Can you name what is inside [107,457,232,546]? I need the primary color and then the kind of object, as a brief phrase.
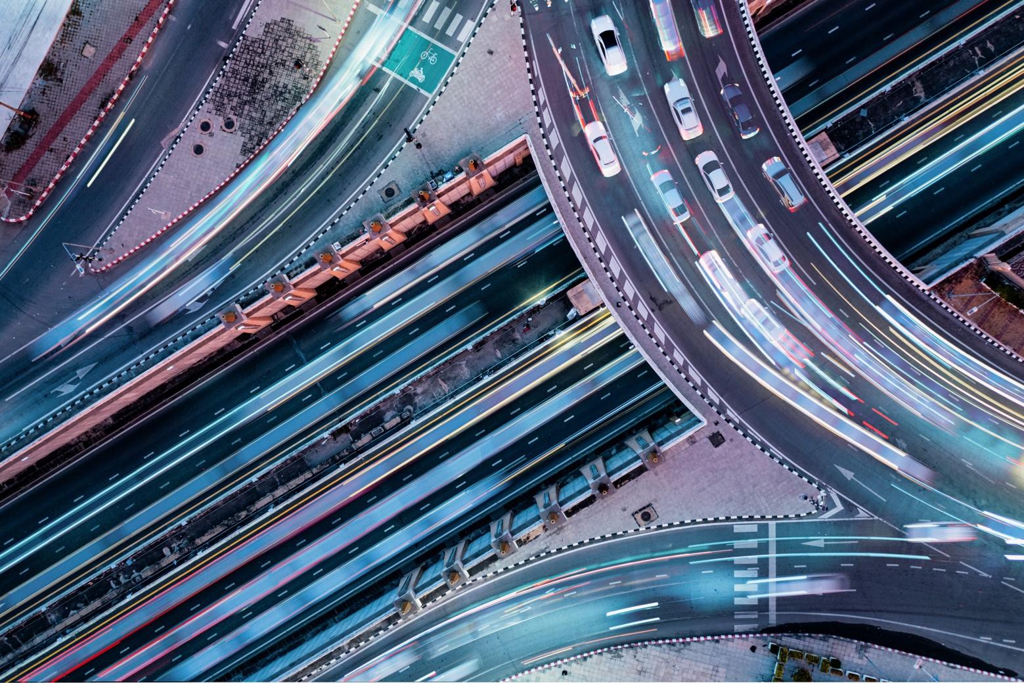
blue bus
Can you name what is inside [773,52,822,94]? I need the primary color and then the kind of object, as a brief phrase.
blue truck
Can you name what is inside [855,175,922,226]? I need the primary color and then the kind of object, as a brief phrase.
blue van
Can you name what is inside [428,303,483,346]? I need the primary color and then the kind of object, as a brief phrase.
blue car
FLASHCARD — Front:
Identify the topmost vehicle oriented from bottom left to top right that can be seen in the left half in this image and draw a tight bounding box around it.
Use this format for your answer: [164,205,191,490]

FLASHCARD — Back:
[345,0,423,78]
